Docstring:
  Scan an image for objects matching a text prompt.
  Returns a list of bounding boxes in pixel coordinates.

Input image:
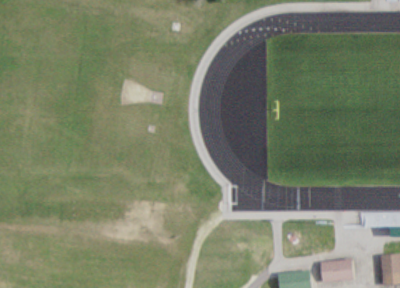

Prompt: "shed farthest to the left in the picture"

[278,270,310,288]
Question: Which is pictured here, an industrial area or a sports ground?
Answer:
sports ground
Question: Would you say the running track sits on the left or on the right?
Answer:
right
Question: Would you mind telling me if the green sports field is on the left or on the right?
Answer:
right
